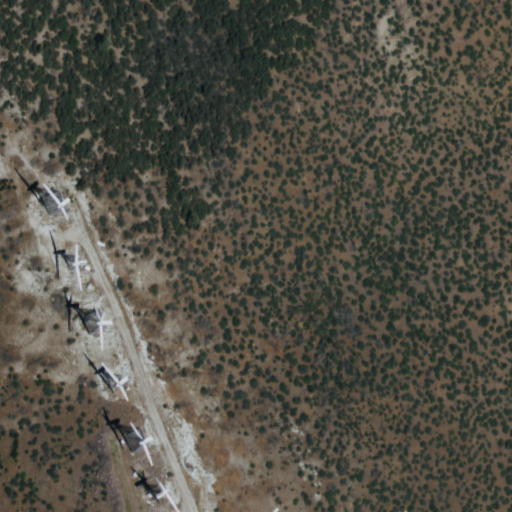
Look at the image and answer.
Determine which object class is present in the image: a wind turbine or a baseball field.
wind turbine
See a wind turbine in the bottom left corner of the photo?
Yes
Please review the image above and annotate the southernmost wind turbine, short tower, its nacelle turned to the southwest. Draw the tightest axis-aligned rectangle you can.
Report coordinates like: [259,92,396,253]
[147,478,180,512]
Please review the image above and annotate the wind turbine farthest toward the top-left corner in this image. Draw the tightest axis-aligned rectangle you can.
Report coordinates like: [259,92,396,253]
[41,184,71,221]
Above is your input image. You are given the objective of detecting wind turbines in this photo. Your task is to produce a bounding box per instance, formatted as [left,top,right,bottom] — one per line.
[41,184,71,221]
[65,244,88,290]
[80,308,112,350]
[122,424,154,465]
[101,363,128,399]
[147,478,180,512]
